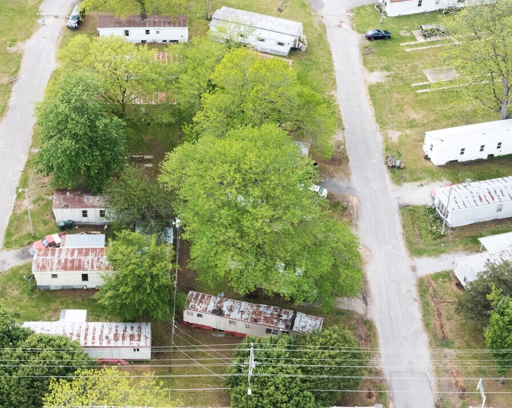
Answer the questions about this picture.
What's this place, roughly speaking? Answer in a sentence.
It's a residential area.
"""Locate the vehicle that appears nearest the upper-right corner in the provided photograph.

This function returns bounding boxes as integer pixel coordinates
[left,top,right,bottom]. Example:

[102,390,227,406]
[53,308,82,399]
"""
[419,23,448,35]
